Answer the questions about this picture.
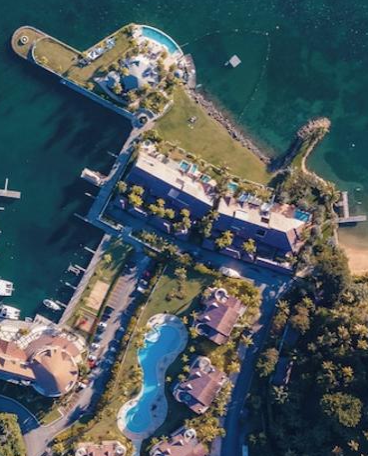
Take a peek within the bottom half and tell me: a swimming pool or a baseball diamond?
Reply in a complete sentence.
There is a swimming pool within the bottom half.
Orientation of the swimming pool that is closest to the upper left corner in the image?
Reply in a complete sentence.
I'd say the swimming pool that is closest to the upper left corner is aligned diagonally in the picture.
